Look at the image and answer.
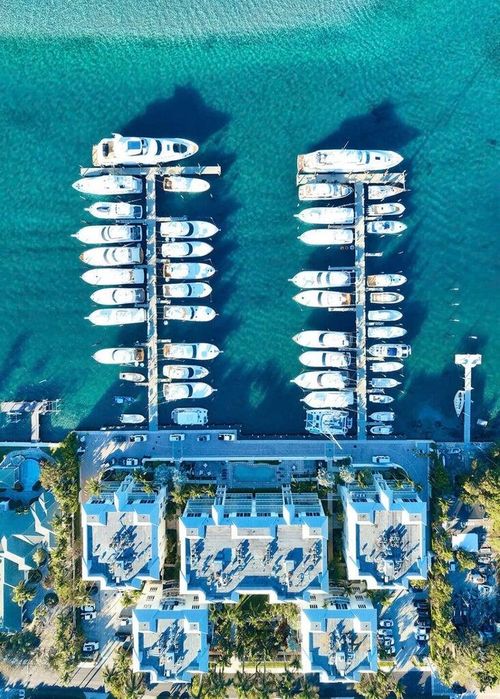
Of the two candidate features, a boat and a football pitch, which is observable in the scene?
boat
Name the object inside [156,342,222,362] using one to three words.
boat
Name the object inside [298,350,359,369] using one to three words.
boat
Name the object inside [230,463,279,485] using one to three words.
swimming pool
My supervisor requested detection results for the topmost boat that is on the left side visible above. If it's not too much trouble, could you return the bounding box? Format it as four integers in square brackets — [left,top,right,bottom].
[91,120,199,165]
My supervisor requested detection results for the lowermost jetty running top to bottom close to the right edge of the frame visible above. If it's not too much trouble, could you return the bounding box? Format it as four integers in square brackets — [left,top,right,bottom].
[454,353,486,443]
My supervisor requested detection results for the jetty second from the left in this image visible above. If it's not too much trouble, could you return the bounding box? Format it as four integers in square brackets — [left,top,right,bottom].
[77,160,221,429]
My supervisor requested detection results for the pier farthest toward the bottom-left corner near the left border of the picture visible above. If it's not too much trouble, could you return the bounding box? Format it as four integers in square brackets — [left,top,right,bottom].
[0,401,62,443]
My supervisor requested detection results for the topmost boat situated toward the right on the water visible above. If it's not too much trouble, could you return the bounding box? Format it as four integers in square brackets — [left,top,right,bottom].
[294,129,406,172]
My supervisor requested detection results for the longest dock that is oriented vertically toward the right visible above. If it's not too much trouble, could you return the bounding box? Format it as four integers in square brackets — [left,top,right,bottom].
[296,168,408,439]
